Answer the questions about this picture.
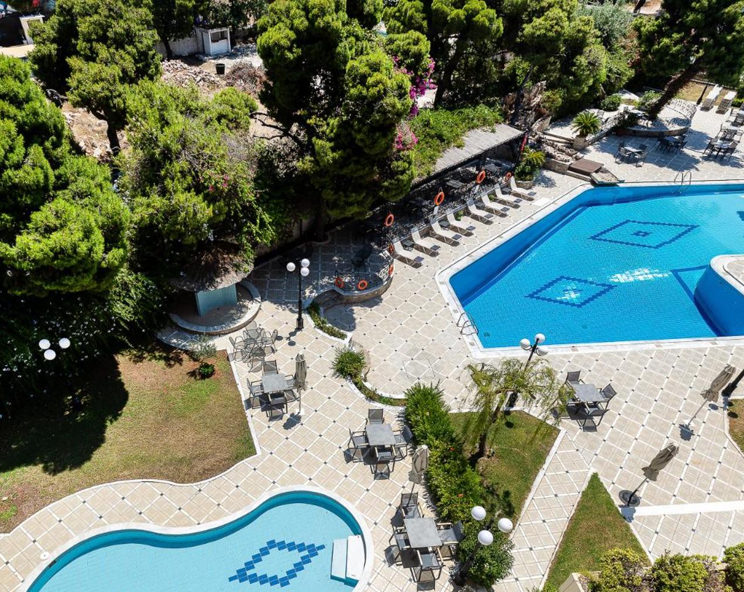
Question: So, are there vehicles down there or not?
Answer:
No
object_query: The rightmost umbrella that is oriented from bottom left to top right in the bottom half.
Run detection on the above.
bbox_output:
[680,370,740,432]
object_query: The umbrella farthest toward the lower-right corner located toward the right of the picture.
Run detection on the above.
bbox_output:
[617,444,676,512]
